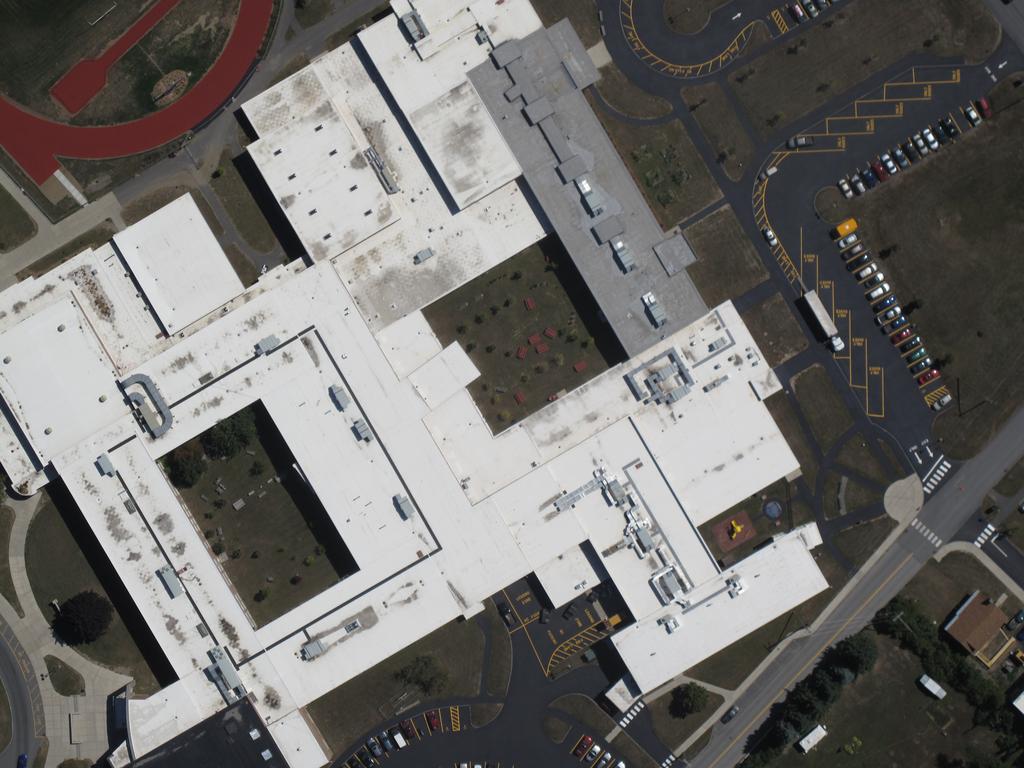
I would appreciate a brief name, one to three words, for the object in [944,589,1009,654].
house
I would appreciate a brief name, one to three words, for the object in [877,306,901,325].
car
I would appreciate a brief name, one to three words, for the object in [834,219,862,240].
vehicle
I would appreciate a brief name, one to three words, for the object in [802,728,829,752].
camper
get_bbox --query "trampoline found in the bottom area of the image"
[763,500,780,518]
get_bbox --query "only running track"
[0,0,275,205]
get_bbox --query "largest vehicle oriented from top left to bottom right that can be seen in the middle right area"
[803,290,845,353]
